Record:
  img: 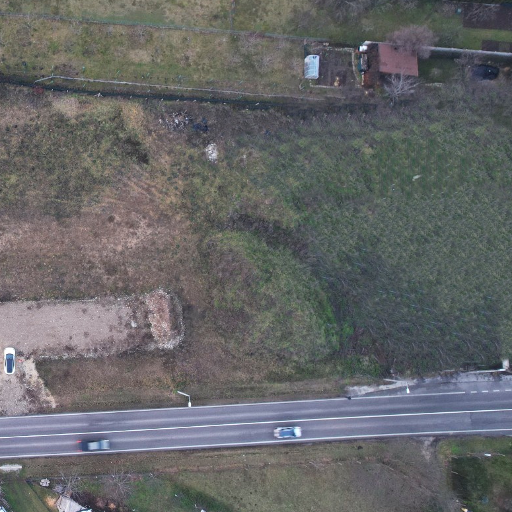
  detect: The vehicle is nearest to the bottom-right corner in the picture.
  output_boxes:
[275,426,305,441]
